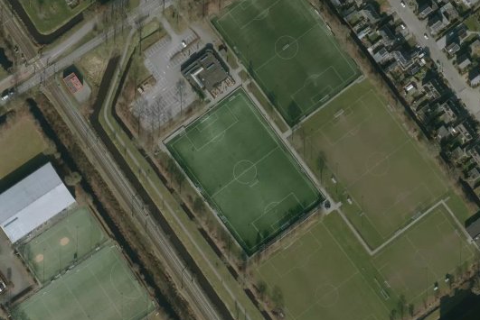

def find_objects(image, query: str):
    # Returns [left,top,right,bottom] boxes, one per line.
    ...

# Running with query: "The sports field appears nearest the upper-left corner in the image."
[0,106,49,177]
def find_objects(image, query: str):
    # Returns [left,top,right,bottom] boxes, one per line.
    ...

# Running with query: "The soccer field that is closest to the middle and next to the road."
[165,89,323,256]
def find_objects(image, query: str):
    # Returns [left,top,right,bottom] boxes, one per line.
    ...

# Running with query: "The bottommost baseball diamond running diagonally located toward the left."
[21,206,111,283]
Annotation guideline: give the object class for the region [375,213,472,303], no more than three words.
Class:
soccer field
